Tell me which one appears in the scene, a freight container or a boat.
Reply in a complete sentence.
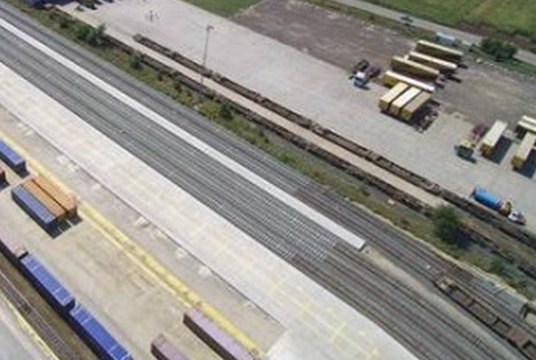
Of the two, only a freight container appears.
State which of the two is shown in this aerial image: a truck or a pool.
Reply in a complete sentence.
Looking from above, you can make out a truck.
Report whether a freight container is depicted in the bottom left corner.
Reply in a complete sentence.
Yes, the scene does show a freight container in the bottom left corner.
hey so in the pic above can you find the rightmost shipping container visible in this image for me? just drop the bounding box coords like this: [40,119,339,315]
[184,308,253,360]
